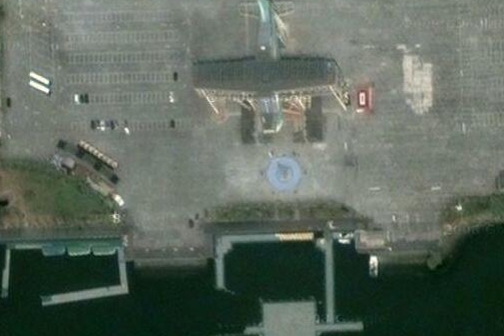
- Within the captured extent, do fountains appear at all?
Yes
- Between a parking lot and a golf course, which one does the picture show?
parking lot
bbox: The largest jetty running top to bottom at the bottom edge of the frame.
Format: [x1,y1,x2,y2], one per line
[316,229,364,332]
